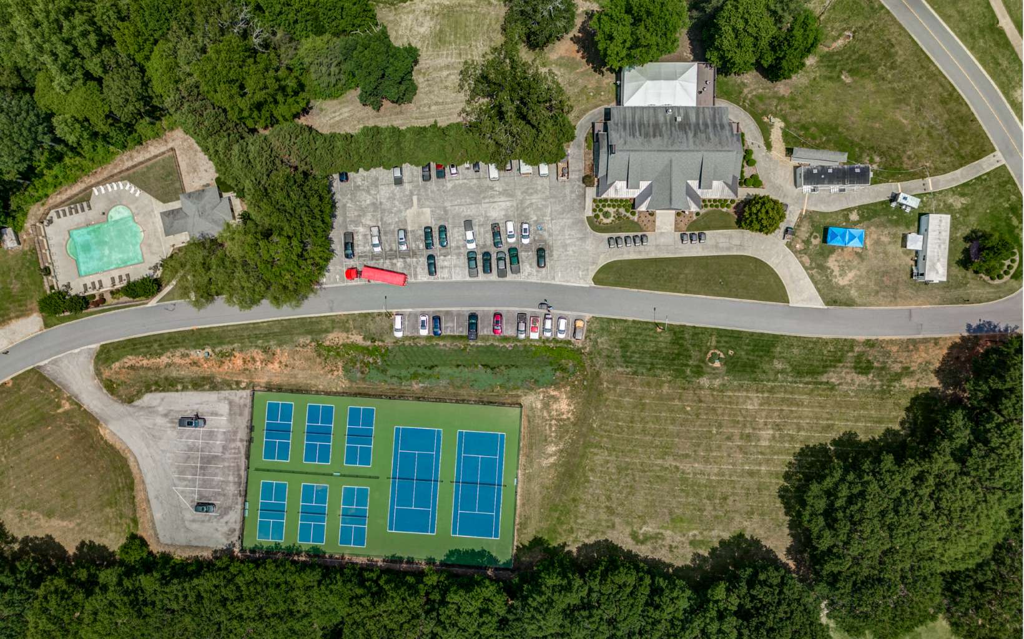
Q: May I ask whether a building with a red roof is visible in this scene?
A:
No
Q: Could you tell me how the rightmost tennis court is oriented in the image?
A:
from top to bottom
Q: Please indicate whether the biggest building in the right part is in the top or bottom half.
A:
top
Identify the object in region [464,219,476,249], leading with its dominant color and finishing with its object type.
white vehicle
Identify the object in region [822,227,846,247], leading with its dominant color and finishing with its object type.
blue tent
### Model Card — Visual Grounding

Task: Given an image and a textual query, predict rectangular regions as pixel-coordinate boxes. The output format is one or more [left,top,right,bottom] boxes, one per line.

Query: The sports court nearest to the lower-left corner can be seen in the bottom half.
[257,481,288,542]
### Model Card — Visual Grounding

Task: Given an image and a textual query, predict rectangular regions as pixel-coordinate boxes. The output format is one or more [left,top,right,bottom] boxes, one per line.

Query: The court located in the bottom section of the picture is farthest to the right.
[451,430,506,539]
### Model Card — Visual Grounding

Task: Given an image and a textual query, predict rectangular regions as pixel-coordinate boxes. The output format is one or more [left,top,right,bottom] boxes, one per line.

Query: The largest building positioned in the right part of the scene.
[592,106,742,211]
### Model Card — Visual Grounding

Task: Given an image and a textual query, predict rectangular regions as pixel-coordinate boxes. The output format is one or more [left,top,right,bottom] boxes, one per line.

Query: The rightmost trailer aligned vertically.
[916,214,950,284]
